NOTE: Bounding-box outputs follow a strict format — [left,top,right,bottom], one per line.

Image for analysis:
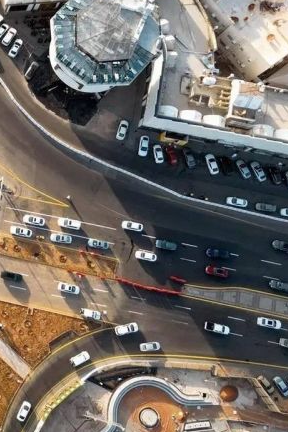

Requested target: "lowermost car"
[18,401,30,421]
